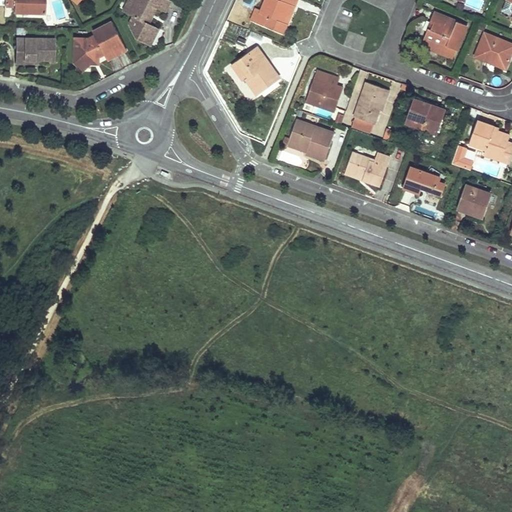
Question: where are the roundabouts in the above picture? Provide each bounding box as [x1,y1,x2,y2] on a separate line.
[113,104,178,164]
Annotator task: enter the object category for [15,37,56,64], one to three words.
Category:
house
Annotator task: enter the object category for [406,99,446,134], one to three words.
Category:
house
